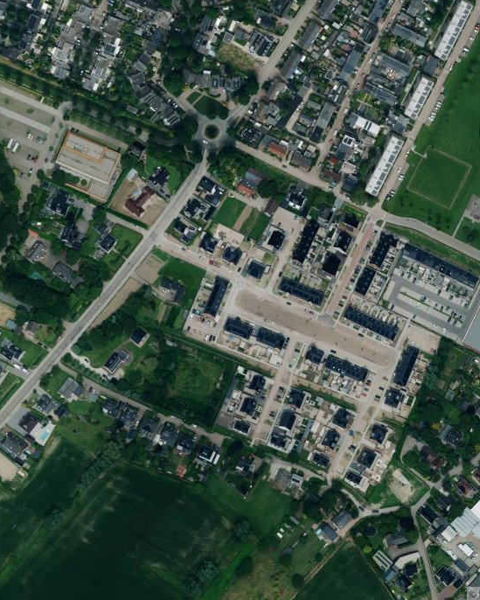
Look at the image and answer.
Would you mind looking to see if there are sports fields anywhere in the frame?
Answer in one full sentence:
Yes, there's a sports field here.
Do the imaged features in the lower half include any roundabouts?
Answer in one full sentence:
No, the scene shows no roundabout in the lower half.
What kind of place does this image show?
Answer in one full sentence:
The picture captures a residential area.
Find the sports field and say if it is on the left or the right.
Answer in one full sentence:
You can find the sports field on the right side of the picture.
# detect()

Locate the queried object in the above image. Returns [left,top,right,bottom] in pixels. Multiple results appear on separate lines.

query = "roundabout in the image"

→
[196,117,233,154]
